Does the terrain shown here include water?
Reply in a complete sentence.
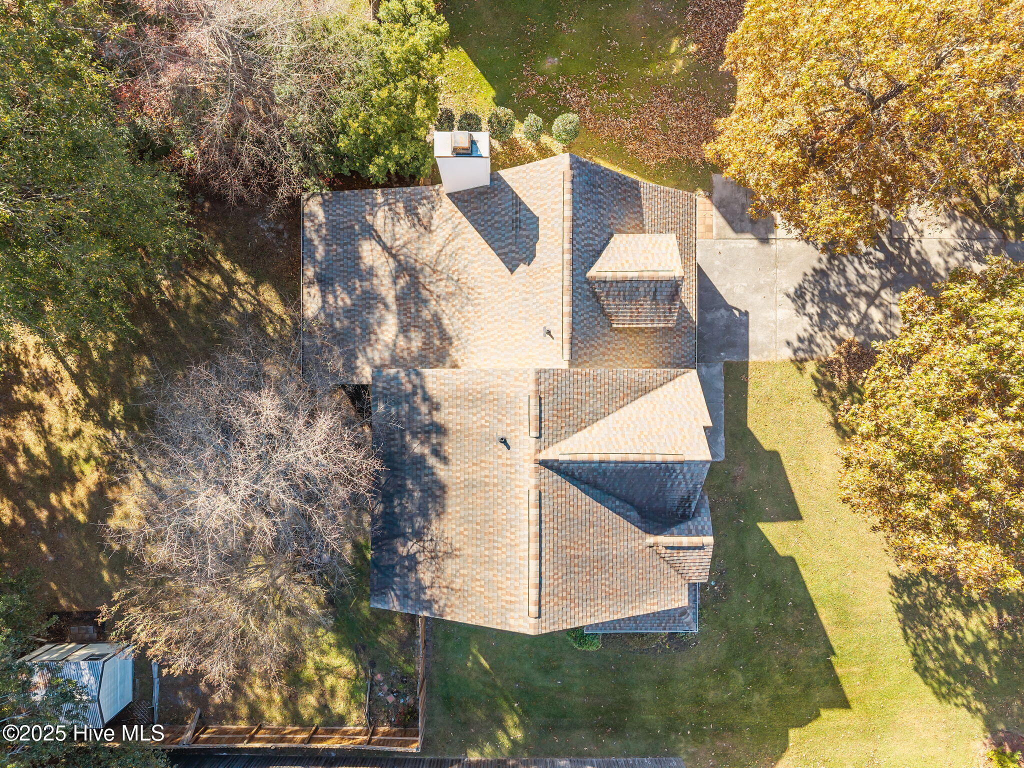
No, no water is visible.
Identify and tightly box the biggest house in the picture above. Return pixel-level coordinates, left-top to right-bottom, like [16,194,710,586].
[301,130,714,635]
